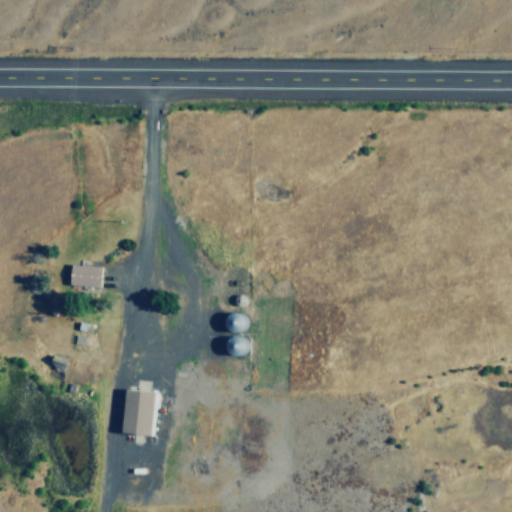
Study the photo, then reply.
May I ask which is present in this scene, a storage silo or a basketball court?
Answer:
storage silo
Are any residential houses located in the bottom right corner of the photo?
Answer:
No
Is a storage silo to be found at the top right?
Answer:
No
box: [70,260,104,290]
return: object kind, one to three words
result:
house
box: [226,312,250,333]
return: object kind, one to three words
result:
silo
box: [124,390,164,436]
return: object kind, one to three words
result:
building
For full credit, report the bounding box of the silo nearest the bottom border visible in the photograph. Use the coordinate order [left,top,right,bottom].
[226,336,250,356]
